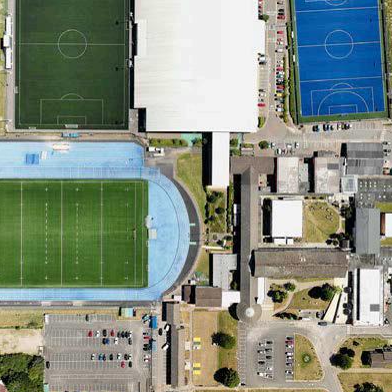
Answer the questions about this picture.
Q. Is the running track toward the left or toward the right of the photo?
left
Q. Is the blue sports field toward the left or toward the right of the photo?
right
